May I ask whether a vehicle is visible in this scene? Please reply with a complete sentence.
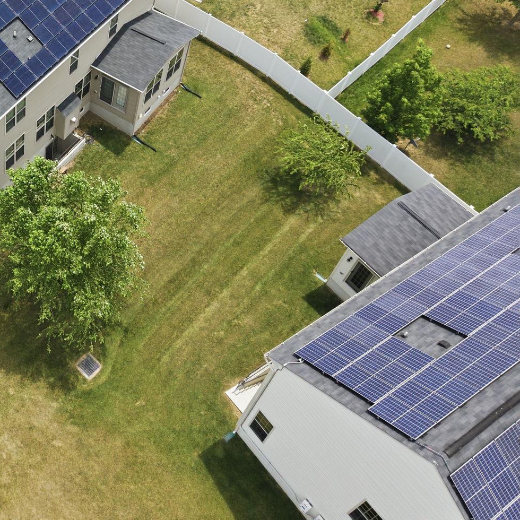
No, I can see no vehicle in this picture.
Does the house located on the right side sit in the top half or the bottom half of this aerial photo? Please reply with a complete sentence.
The house located on the right side is in the bottom half of the image.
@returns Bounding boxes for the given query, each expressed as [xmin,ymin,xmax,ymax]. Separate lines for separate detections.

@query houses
[225,183,520,520]
[0,0,198,189]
